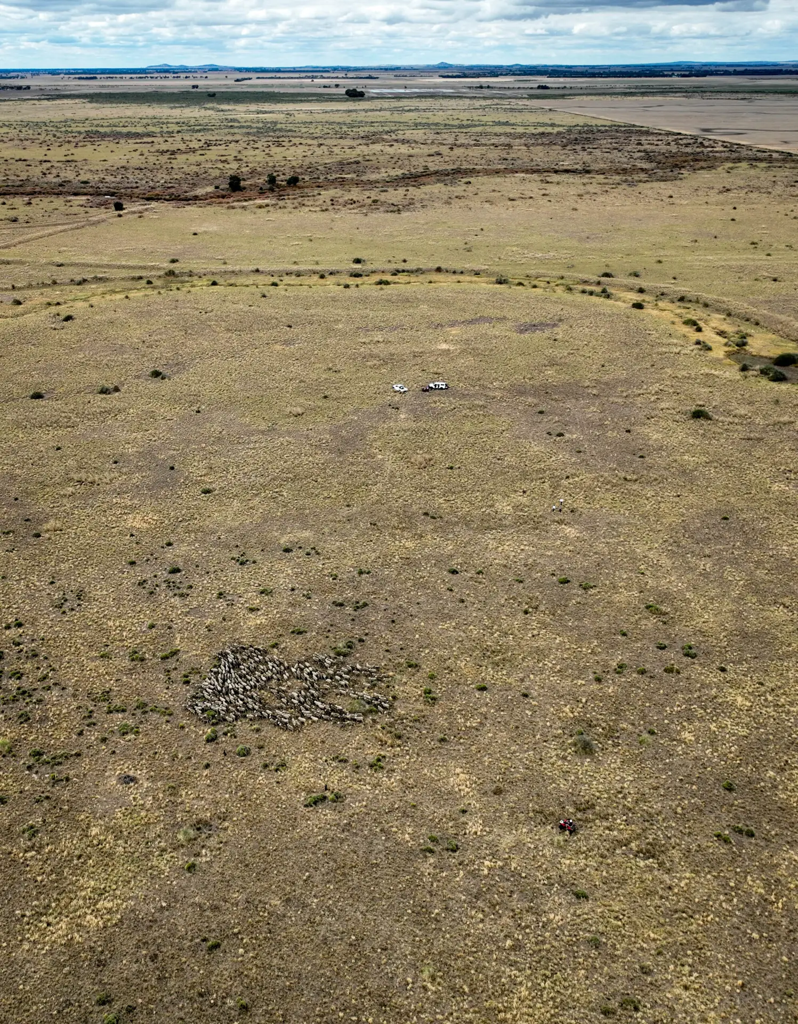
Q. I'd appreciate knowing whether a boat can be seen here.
No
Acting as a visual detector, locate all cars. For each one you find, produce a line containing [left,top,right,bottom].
[393,384,407,391]
[428,381,449,390]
